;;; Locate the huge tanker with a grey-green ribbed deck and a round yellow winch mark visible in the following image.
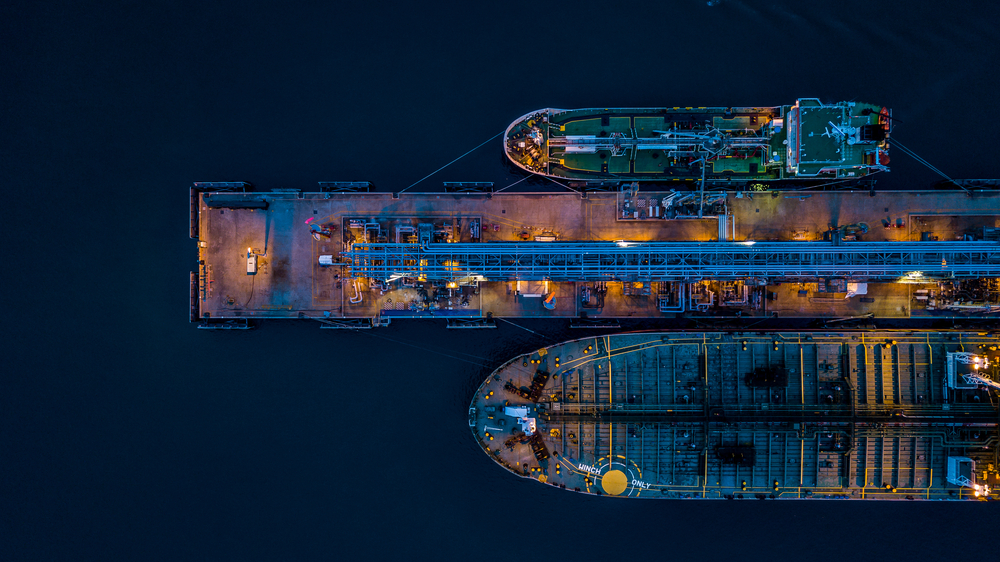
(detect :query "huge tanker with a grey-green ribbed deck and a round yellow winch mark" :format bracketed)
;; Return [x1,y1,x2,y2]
[470,329,1000,501]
